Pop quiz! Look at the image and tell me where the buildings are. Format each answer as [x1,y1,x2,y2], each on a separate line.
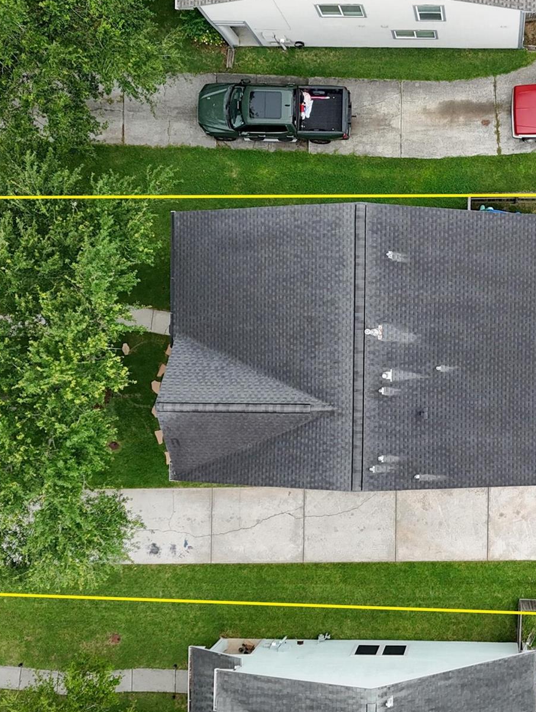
[174,0,536,59]
[155,202,536,492]
[185,634,536,712]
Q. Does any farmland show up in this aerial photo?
No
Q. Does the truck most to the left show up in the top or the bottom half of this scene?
top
